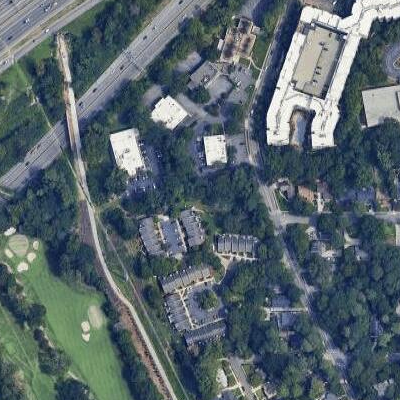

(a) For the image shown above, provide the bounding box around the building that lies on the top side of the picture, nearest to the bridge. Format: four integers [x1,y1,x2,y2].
[110,128,144,176]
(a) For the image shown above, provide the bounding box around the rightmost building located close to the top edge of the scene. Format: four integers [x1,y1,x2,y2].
[265,0,400,147]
